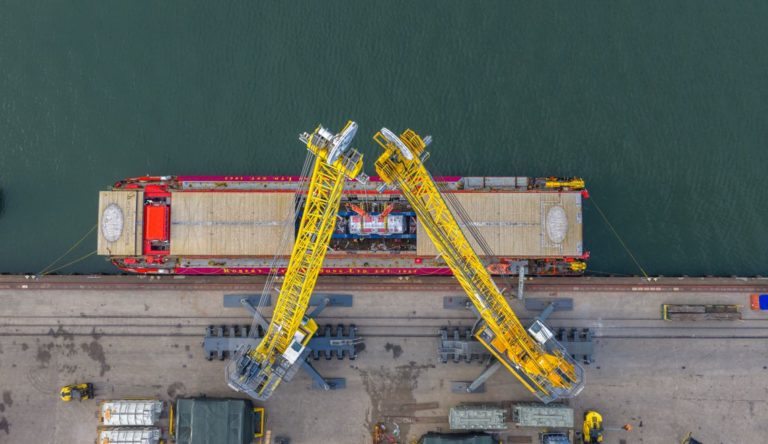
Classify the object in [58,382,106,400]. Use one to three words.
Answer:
work vehicle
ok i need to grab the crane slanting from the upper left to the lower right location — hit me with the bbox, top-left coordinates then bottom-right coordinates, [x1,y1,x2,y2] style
[366,124,593,403]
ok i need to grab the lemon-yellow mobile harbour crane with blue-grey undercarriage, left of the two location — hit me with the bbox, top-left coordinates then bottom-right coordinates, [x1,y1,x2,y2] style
[203,119,369,404]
